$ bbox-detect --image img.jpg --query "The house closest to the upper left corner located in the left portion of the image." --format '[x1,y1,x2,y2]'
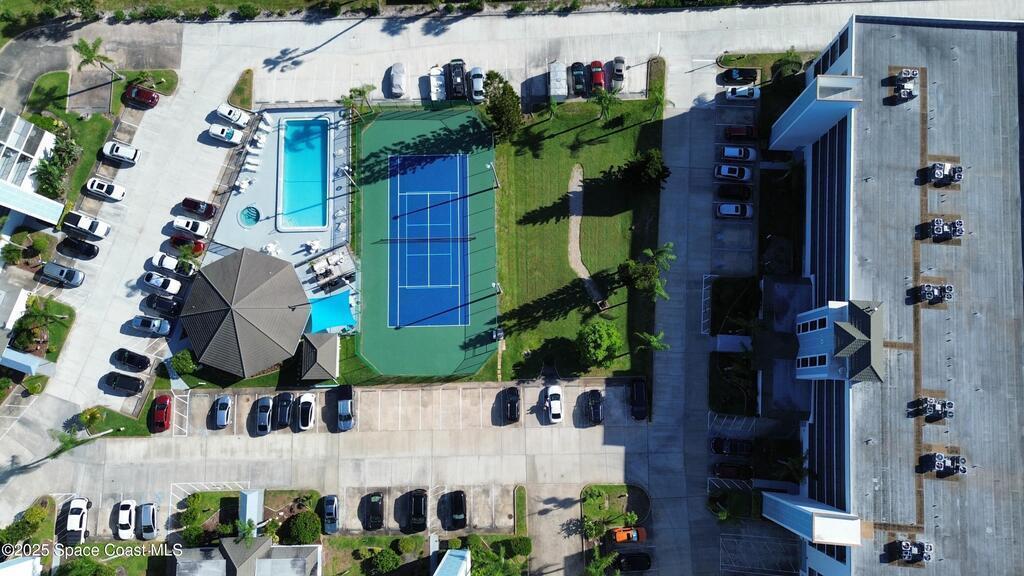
[0,106,64,178]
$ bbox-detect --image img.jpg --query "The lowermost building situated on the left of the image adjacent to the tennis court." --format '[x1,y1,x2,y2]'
[301,333,340,380]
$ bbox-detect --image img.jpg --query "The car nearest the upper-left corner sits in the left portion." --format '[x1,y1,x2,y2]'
[127,86,160,106]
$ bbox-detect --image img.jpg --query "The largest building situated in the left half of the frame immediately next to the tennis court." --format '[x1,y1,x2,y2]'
[180,248,312,379]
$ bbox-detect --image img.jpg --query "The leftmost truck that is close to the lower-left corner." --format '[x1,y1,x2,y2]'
[65,498,91,544]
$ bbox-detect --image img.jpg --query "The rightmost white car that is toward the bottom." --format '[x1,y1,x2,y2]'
[547,386,564,423]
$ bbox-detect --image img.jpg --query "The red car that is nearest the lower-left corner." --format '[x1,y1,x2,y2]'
[153,395,173,431]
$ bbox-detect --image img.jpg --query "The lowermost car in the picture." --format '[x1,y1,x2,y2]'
[617,552,652,572]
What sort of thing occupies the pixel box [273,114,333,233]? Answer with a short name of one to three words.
swimming pool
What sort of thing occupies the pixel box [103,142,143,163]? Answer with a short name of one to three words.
car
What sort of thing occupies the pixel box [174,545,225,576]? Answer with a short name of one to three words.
house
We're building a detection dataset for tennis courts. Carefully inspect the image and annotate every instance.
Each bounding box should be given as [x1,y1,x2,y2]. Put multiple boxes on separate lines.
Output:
[361,109,497,374]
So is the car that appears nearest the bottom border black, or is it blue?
black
